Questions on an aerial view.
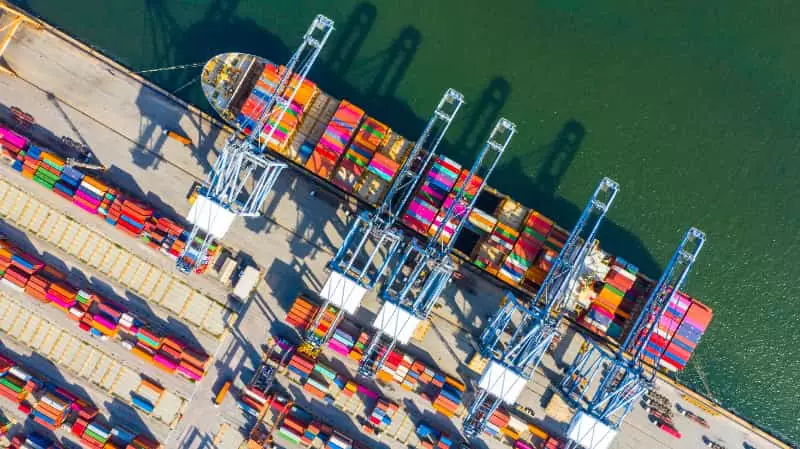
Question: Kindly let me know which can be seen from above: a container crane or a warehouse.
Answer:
container crane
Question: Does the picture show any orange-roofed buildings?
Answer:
No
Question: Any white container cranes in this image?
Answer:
Yes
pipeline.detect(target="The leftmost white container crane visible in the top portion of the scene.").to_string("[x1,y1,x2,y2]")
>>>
[167,12,333,278]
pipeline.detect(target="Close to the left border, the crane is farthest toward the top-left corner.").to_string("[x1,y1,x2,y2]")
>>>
[0,2,42,75]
